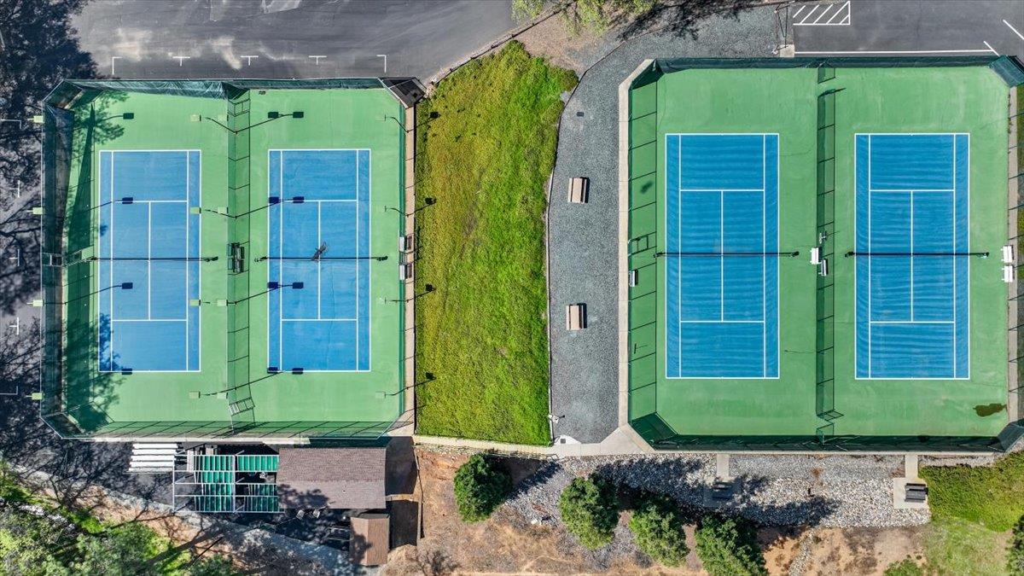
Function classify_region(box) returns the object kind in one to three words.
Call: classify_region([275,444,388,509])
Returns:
building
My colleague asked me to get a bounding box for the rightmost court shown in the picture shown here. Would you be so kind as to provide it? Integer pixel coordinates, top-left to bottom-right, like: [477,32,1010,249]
[817,70,1008,442]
